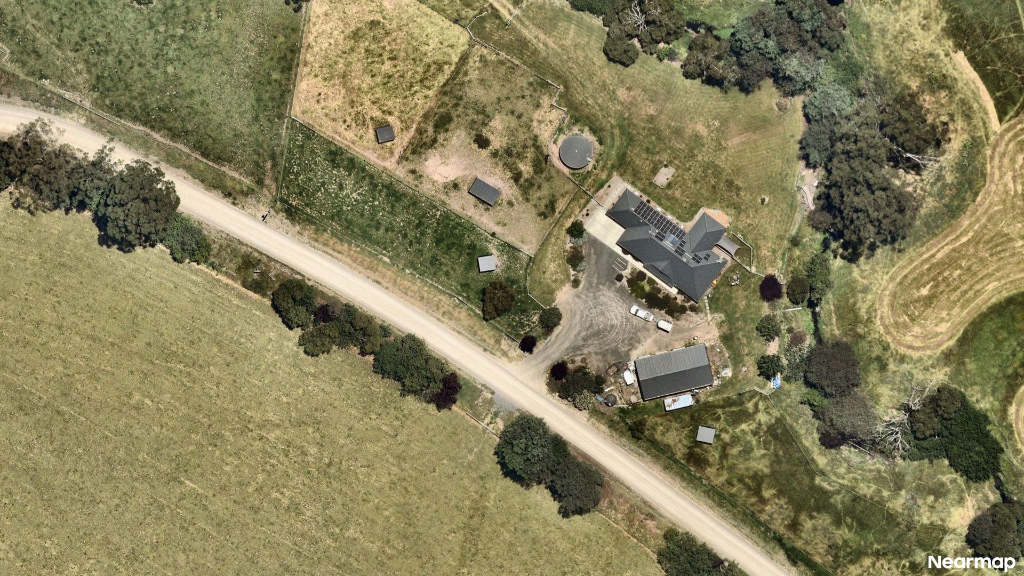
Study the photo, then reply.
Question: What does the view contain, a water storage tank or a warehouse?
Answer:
water storage tank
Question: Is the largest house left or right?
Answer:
right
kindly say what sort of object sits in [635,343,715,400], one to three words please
shed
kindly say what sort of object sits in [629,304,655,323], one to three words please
vehicle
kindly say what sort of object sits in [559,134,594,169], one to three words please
water tank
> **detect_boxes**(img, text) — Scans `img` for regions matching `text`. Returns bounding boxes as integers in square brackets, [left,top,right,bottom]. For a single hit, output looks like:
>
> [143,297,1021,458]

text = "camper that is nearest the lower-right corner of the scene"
[664,394,693,411]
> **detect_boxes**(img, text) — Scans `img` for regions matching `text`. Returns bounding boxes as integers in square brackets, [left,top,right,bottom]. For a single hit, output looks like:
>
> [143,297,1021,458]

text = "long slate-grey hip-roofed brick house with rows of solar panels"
[607,188,728,303]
